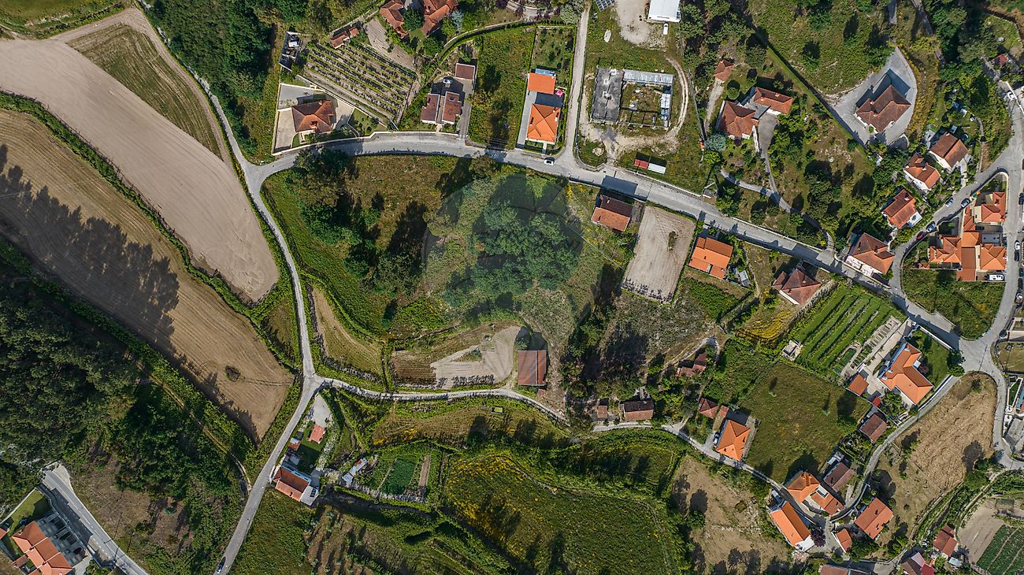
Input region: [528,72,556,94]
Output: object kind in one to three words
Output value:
building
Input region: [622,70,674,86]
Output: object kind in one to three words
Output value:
shed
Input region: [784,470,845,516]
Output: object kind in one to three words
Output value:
house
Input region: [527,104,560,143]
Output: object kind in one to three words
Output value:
house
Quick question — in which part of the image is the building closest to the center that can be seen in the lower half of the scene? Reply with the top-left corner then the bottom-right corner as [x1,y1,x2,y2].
[517,350,546,388]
